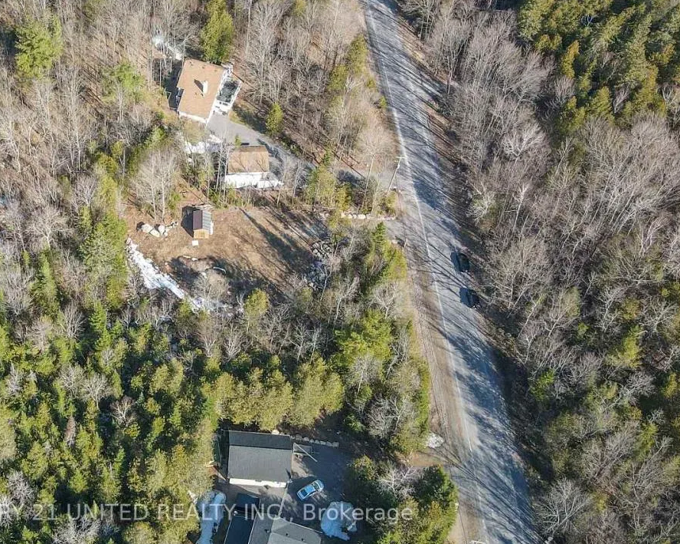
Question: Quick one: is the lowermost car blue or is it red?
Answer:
blue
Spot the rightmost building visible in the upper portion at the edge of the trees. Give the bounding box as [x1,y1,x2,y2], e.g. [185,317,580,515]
[226,147,268,180]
